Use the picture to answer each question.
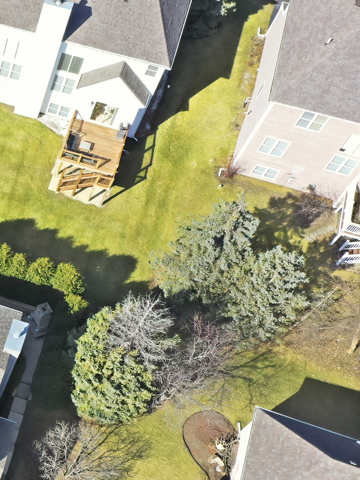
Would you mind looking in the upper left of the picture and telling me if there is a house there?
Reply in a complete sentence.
Yes, in the upper left of the picture there is a house.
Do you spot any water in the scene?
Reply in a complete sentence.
No, there is no water in the image.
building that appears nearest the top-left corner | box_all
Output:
[0,0,193,152]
